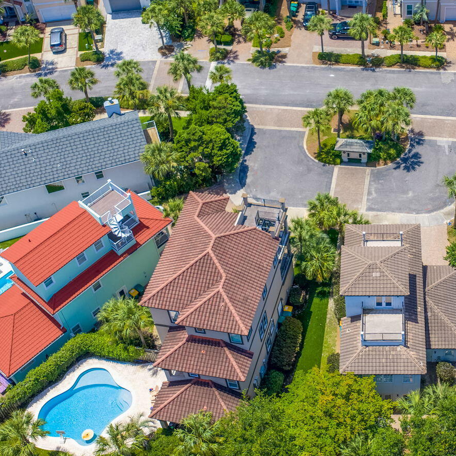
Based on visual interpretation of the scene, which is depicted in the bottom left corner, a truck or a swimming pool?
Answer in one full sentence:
Looking in the bottom left corner, you will find a swimming pool.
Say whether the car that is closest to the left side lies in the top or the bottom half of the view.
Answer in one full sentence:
You can find the car that is closest to the left side in the top half.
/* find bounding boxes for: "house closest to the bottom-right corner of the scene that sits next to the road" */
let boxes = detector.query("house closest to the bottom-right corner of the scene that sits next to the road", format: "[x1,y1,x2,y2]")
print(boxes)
[338,222,456,399]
